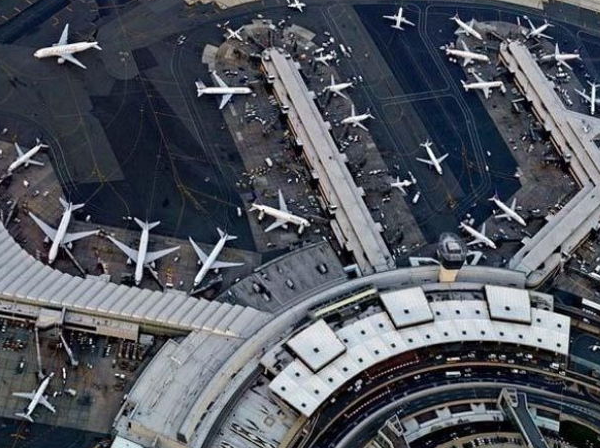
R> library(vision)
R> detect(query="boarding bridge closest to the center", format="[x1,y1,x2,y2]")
[309,214,331,228]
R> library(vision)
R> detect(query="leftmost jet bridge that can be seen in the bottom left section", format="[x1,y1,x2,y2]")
[33,324,47,380]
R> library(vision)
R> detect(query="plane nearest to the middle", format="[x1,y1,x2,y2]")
[248,189,310,234]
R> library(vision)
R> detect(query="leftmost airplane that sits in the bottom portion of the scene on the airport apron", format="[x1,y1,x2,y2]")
[15,374,61,420]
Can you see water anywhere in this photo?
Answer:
No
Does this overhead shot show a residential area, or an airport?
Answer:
airport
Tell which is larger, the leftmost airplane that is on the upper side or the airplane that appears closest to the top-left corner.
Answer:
the airplane that appears closest to the top-left corner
